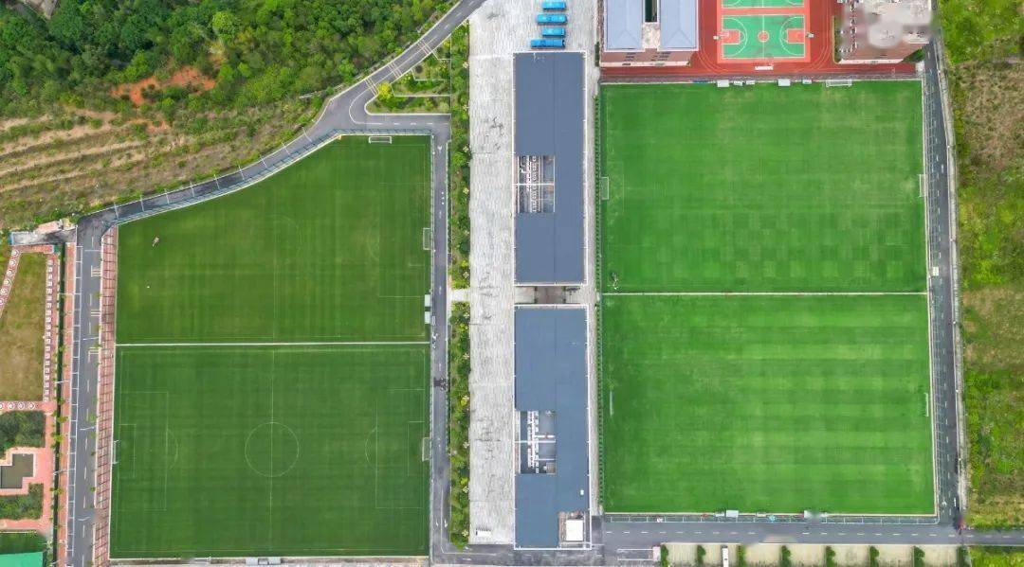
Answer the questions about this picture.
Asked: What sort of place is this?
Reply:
sports ground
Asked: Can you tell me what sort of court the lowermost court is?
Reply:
basketball court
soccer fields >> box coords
[115,134,430,346]
[604,294,936,517]
[603,79,929,295]
[109,343,430,559]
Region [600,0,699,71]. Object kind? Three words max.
building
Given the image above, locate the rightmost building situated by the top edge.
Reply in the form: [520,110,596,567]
[840,0,932,66]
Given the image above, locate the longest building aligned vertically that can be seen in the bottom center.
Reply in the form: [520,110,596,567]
[515,306,590,550]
